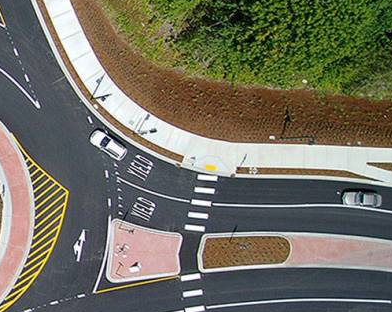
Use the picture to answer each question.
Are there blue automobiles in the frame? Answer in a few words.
No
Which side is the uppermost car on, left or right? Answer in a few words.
left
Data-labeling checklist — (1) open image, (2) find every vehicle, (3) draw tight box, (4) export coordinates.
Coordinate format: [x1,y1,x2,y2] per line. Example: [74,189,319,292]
[341,191,384,208]
[90,131,128,160]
